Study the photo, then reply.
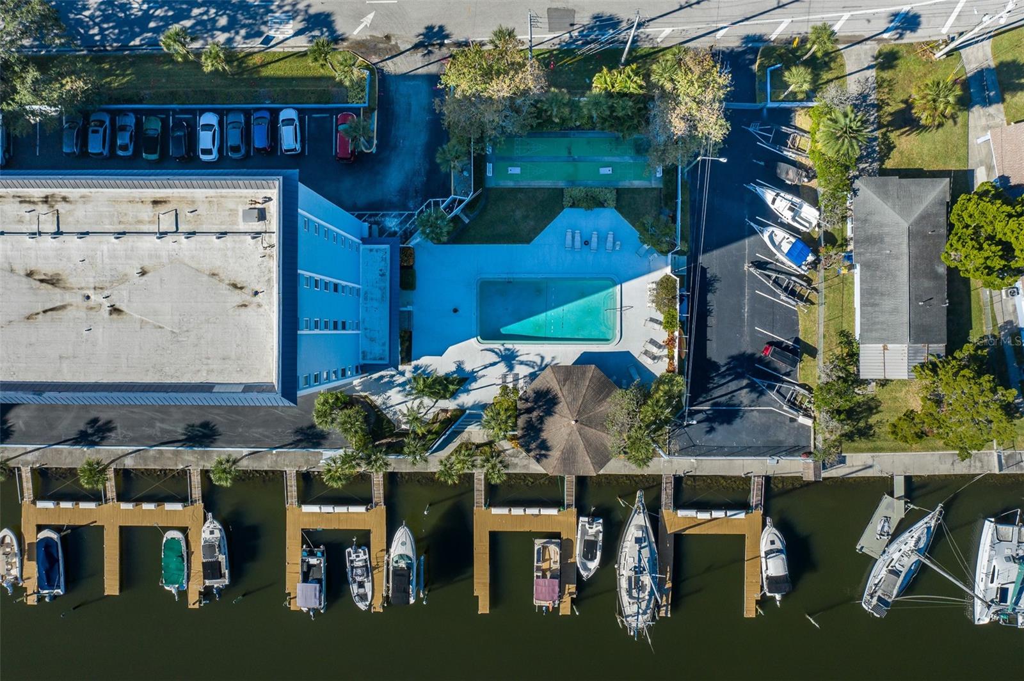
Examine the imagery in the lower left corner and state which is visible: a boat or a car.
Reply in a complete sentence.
Looking in the lower left corner, you will find a boat.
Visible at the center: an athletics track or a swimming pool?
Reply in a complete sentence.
You can see a swimming pool at the center.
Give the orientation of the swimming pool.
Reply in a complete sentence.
Seen from above, the swimming pool lies horizontally.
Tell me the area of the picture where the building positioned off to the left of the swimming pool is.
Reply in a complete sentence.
The building positioned off to the left of the swimming pool appears toward the left of the photo.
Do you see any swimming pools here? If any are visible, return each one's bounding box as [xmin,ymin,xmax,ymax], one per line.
[478,276,626,343]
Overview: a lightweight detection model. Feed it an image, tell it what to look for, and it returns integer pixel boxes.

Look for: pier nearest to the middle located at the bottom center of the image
[474,473,578,615]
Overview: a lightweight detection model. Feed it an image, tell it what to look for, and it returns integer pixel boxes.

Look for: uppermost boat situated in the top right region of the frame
[775,160,817,188]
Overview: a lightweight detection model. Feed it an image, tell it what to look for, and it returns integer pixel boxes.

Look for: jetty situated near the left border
[15,468,205,608]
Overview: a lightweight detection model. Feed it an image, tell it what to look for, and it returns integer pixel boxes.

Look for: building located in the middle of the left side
[0,167,399,405]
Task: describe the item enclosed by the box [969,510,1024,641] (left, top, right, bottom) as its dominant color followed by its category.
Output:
white boat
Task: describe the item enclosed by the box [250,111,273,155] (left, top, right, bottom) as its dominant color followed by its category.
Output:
blue car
